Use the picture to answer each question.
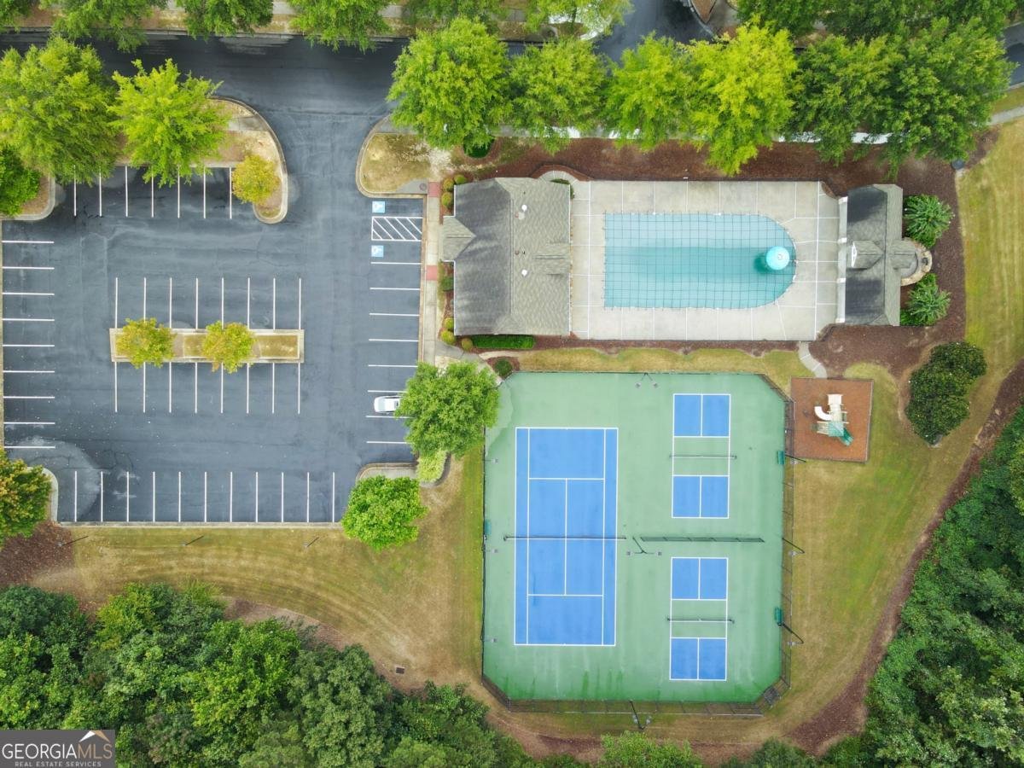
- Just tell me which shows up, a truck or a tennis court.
tennis court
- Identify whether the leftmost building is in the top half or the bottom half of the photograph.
top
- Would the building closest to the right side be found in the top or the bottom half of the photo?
top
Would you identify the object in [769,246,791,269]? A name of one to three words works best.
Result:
fountain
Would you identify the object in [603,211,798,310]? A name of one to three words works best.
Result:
swimming pool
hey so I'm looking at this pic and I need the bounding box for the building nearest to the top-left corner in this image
[441,177,571,336]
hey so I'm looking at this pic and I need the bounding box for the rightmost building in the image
[835,185,919,326]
